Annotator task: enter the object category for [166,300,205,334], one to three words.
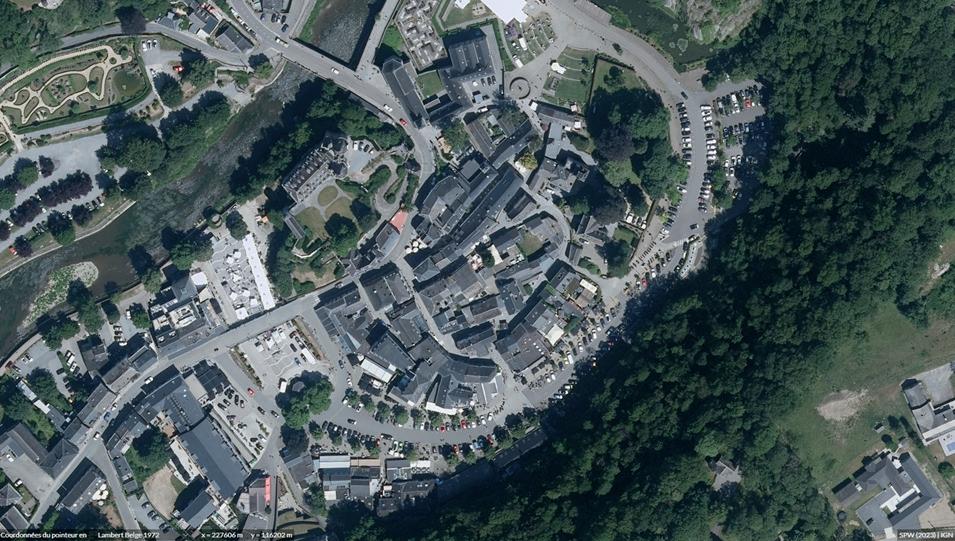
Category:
building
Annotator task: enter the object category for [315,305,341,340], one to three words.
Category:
house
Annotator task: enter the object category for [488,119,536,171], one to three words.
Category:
house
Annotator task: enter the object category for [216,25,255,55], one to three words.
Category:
building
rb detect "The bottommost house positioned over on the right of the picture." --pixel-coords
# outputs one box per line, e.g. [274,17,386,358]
[888,495,943,531]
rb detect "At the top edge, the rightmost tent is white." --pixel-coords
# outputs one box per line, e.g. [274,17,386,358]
[481,0,530,24]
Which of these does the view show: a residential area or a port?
residential area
